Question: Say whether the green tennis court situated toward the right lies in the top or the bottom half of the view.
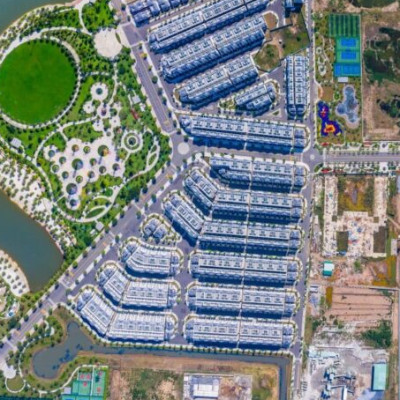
top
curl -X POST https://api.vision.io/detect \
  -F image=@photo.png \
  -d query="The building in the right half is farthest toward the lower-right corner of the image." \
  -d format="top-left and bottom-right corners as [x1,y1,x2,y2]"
[373,364,387,392]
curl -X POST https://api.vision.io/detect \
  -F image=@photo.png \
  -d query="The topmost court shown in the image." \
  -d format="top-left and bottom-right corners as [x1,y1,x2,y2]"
[336,37,361,63]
